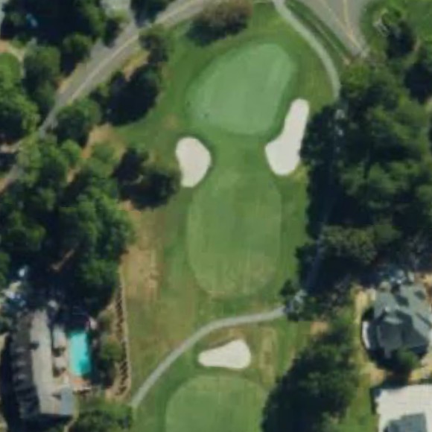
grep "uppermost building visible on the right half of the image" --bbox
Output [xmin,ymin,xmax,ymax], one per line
[361,278,432,356]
